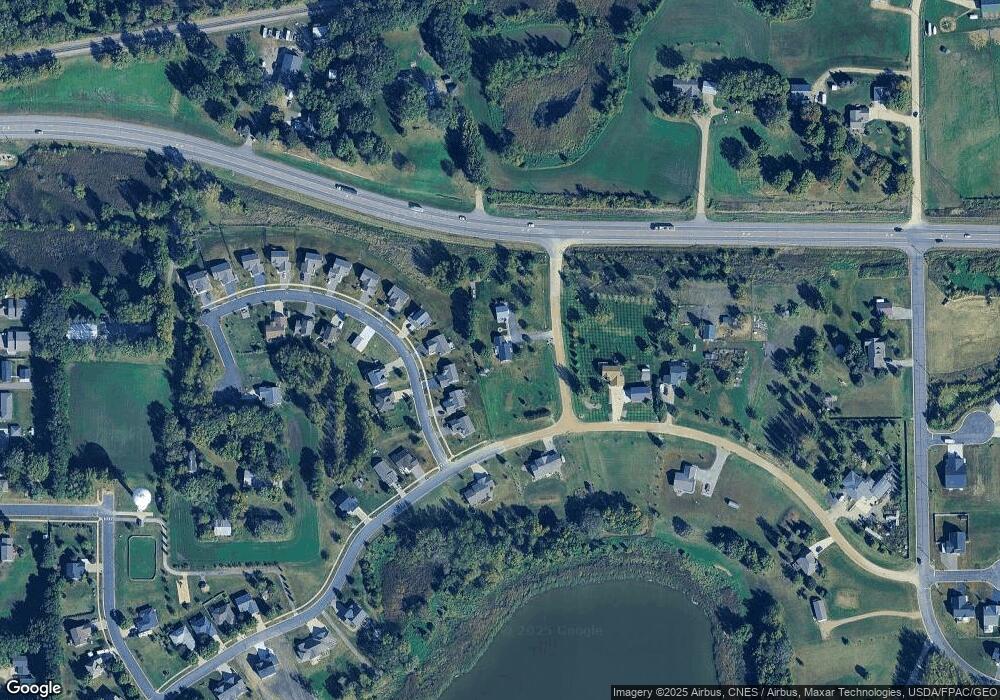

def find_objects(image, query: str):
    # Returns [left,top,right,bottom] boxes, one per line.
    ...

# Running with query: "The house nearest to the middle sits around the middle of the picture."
[495,341,512,361]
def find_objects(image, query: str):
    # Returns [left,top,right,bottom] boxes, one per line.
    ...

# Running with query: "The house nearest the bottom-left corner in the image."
[11,656,30,679]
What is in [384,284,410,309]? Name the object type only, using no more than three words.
house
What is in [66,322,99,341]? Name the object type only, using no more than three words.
building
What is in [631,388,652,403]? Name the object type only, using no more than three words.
building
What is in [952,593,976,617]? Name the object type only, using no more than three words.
house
